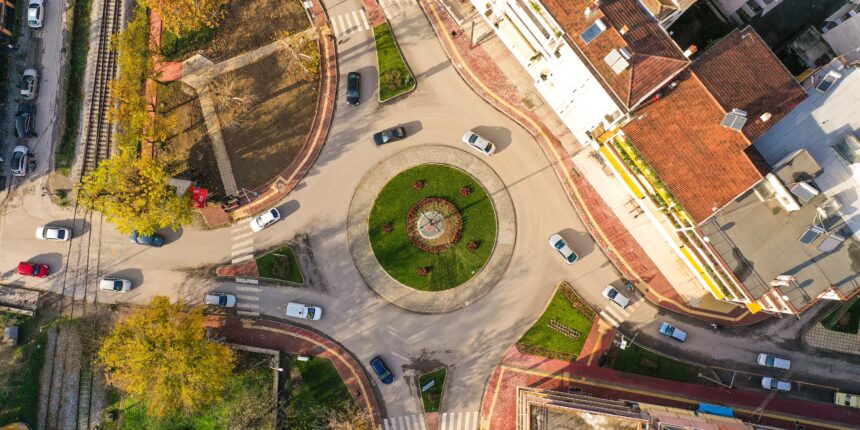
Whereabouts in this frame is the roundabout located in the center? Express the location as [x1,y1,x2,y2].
[347,146,517,316]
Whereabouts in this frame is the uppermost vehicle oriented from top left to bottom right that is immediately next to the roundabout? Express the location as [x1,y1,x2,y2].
[461,129,496,156]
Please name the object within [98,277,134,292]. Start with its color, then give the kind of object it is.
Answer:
white car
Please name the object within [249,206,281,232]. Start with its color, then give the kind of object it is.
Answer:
white car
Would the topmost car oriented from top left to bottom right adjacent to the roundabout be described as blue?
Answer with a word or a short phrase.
No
